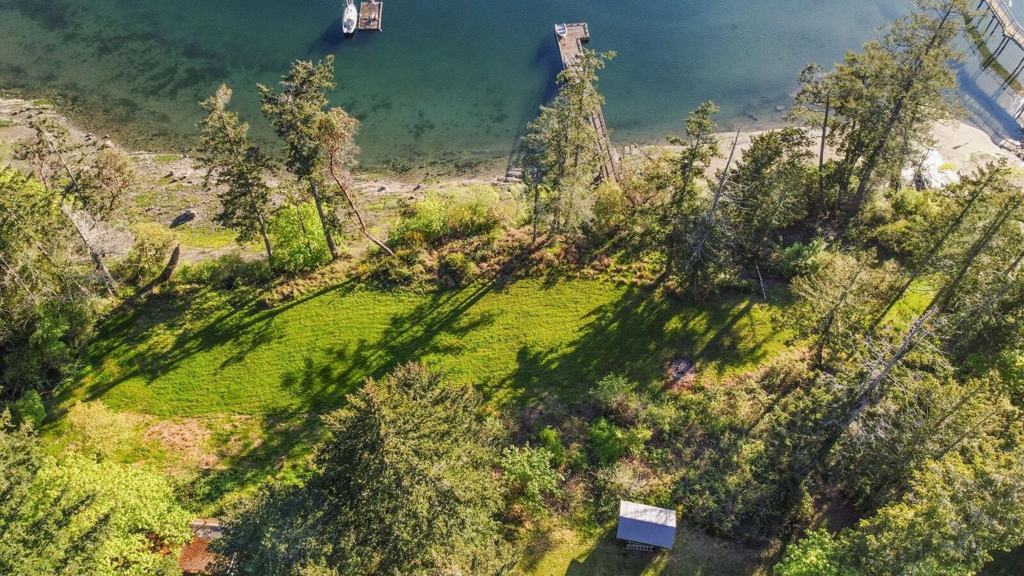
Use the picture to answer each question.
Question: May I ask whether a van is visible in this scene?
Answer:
No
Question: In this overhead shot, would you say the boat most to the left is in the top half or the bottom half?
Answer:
top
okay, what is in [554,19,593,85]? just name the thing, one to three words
pier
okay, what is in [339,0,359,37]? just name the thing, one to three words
boat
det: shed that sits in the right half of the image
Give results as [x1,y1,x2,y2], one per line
[617,498,675,554]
